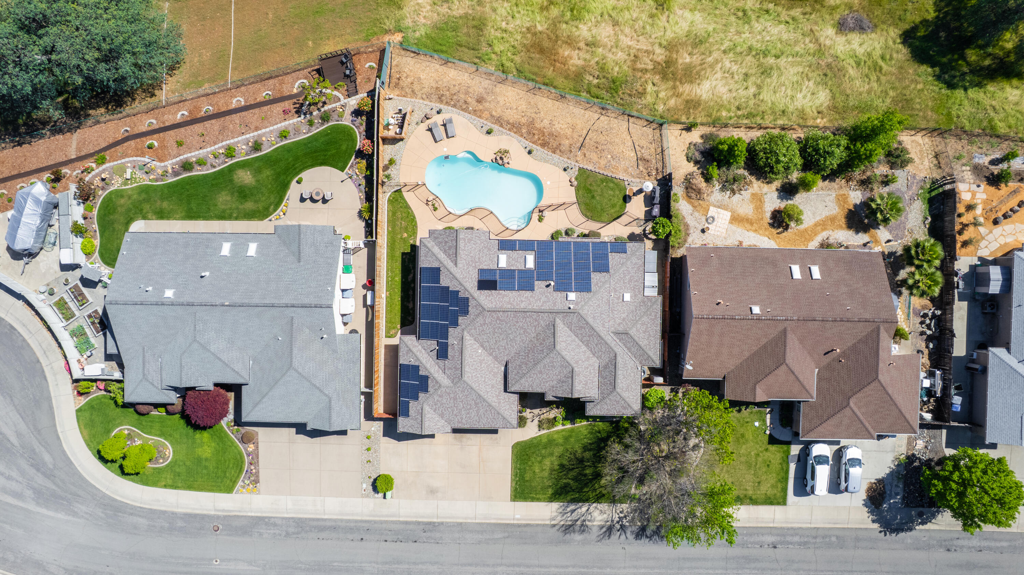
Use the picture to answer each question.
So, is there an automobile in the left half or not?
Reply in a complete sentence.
No, looking in the left half, there is no automobile.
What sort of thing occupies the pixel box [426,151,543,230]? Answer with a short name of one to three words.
swimming pool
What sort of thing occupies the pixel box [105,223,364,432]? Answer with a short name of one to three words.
house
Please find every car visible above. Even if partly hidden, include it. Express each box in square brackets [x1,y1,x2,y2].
[805,441,835,496]
[837,444,866,494]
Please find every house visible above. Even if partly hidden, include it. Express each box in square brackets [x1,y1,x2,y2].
[679,244,922,441]
[396,229,664,435]
[970,250,1024,446]
[105,223,364,432]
